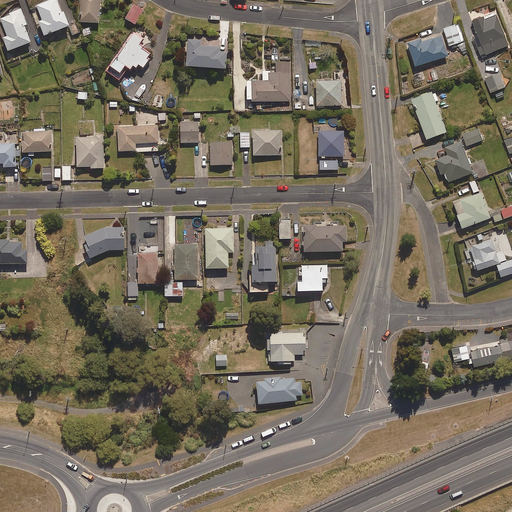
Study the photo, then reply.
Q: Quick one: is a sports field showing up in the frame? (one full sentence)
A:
No, no sports field is visible in the scene.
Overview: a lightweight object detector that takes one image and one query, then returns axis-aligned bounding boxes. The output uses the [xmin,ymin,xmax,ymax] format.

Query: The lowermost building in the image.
[256,376,304,406]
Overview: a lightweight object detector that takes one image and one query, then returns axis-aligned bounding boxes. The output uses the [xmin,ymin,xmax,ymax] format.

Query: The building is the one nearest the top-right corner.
[470,12,508,56]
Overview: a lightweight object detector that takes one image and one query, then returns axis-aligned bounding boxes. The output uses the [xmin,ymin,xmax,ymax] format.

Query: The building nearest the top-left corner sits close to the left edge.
[0,9,30,48]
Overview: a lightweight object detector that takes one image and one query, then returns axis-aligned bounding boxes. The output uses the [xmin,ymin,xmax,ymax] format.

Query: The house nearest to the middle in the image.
[252,239,278,282]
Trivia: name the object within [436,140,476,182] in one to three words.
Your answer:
house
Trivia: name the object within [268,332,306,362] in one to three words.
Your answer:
house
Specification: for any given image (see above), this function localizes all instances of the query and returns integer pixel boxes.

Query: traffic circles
[80,476,150,512]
